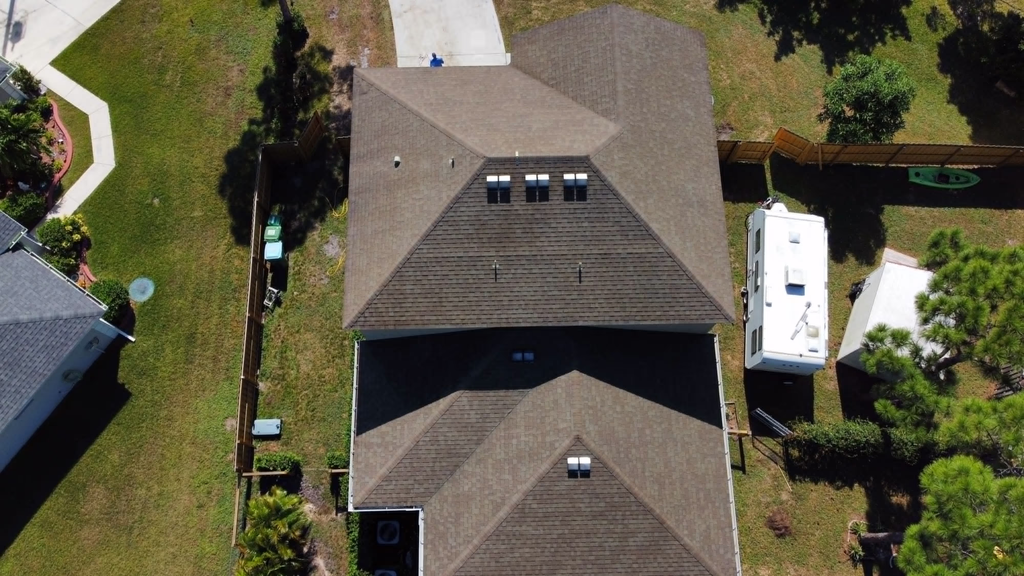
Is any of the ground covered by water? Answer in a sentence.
No, there is no water in the image.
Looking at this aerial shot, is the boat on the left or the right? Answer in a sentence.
You can find the boat on the right side of the picture.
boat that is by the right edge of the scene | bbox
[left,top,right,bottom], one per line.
[906,167,983,188]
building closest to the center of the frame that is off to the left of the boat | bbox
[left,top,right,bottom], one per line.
[339,5,744,576]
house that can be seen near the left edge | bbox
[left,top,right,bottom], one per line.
[0,206,135,471]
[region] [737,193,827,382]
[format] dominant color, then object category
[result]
white trailer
